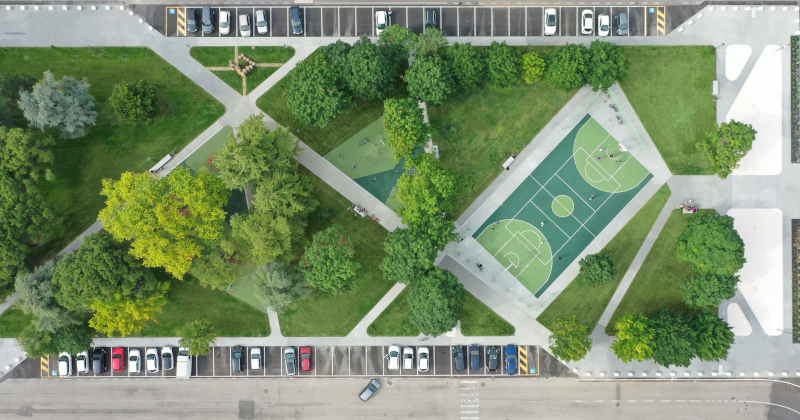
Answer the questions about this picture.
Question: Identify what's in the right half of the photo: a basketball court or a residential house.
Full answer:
The one visible in the right half of the photo is a basketball court.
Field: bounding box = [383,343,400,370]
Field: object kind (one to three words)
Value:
car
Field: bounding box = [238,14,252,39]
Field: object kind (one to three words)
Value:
vehicle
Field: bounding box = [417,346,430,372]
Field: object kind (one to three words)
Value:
vehicle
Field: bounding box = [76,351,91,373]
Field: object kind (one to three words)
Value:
car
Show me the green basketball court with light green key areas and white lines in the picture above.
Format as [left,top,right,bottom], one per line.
[473,115,653,298]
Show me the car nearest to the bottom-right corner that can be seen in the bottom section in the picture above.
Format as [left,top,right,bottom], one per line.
[504,344,518,375]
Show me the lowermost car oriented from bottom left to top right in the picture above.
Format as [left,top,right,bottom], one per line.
[358,377,381,403]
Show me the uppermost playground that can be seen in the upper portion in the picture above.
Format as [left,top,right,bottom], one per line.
[324,116,434,211]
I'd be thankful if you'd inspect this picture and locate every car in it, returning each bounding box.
[58,353,73,376]
[358,377,381,403]
[201,6,215,35]
[452,344,465,371]
[284,345,297,376]
[504,344,518,375]
[145,347,160,372]
[186,9,199,34]
[383,343,400,370]
[255,9,269,36]
[91,347,107,374]
[230,345,244,372]
[543,8,558,37]
[290,6,303,36]
[111,347,126,372]
[218,10,232,36]
[597,13,610,37]
[238,14,252,39]
[76,351,91,373]
[486,345,498,371]
[375,9,388,36]
[417,346,430,372]
[162,345,174,369]
[250,347,262,370]
[425,8,437,27]
[580,9,595,36]
[299,346,311,371]
[402,346,414,369]
[128,348,142,373]
[469,343,480,370]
